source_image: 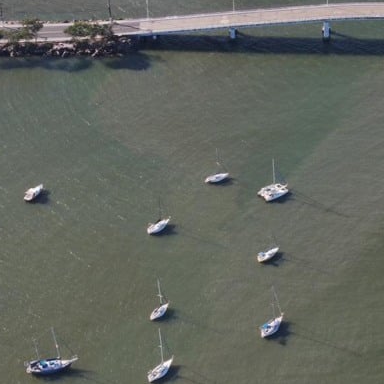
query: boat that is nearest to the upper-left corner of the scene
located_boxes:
[21,183,43,200]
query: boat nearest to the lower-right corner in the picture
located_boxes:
[257,293,282,339]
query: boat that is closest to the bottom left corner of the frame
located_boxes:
[24,329,79,374]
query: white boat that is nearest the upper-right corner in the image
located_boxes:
[257,159,292,202]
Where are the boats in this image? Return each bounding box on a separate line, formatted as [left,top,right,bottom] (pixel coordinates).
[146,282,170,321]
[24,329,79,374]
[144,327,175,383]
[254,226,280,264]
[203,167,230,184]
[21,183,43,200]
[257,293,282,339]
[257,159,292,202]
[145,197,170,235]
